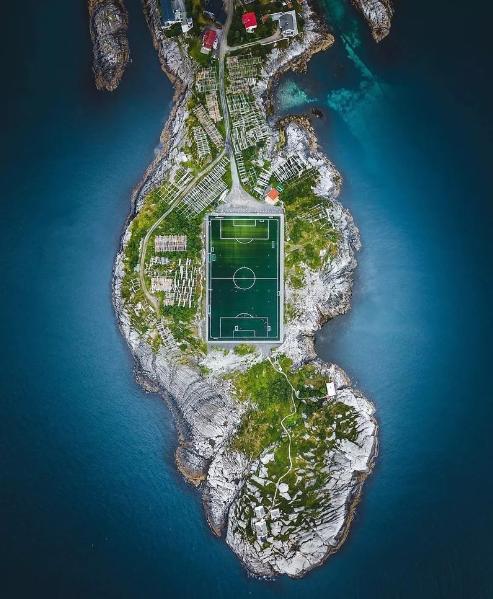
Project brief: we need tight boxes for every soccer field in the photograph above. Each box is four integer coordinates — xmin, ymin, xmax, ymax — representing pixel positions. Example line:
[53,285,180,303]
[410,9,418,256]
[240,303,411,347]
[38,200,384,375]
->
[206,213,284,343]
